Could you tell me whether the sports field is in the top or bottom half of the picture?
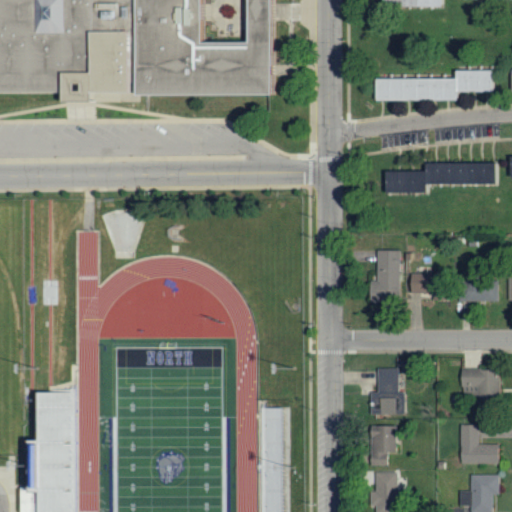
bottom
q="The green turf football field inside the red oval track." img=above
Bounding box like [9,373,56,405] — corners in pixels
[100,338,236,512]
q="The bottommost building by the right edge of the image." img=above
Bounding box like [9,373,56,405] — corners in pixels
[460,477,504,512]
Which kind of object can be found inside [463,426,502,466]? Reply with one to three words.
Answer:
house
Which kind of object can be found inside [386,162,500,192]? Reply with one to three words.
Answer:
building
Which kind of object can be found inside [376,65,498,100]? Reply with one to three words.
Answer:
building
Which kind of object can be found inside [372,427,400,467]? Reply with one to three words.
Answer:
house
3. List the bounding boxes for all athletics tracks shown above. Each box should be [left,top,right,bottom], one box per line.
[78,230,259,512]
